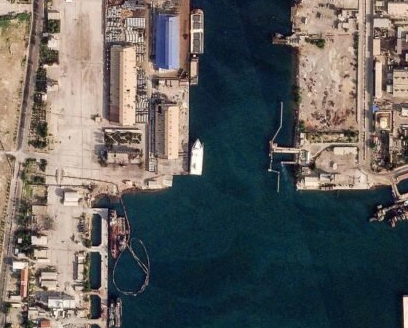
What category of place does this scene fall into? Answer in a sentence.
The area seen from above is a port.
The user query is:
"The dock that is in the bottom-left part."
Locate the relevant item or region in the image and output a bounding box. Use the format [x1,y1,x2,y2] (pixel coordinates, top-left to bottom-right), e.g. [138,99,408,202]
[87,208,108,328]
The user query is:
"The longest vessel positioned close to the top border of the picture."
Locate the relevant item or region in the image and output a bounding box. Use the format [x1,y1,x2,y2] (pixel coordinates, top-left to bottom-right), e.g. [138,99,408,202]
[191,9,203,54]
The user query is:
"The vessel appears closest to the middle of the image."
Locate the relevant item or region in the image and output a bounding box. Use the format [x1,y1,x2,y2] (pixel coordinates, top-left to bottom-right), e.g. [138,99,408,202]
[190,139,203,175]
